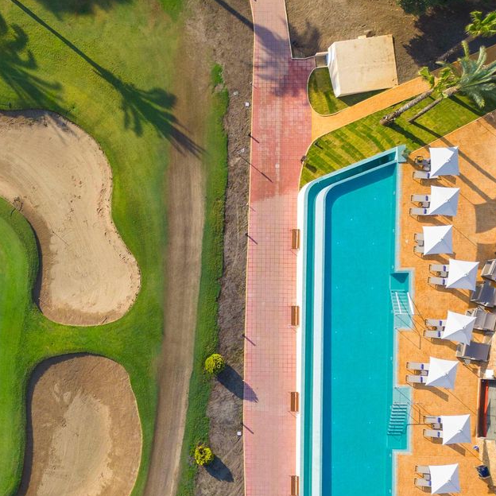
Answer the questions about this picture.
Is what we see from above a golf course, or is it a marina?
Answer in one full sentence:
The picture captures a golf course.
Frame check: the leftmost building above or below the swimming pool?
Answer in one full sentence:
The leftmost building is above the swimming pool.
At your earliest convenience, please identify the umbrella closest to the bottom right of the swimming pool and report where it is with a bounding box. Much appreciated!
[429,464,459,494]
